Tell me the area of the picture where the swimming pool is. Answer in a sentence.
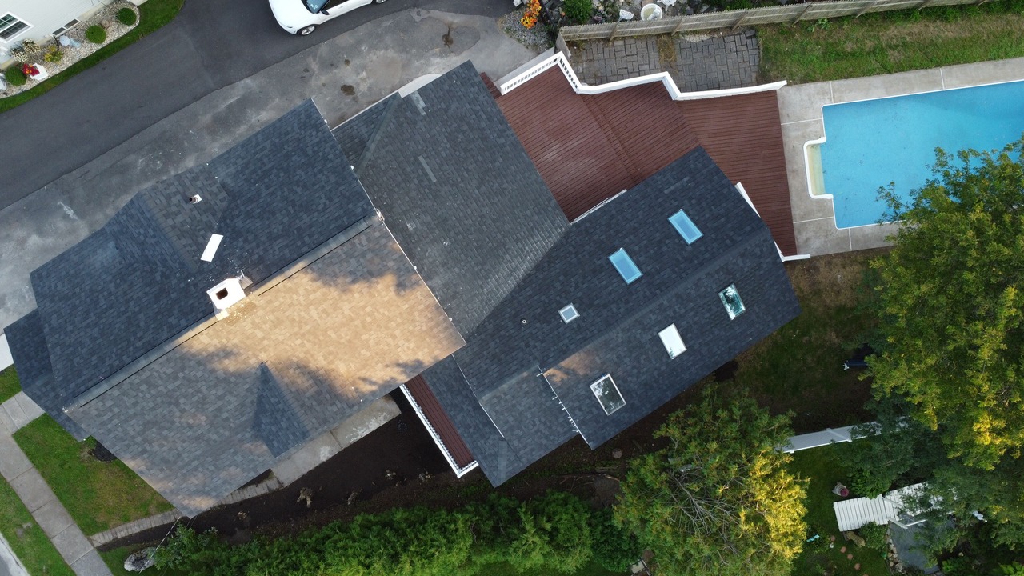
The swimming pool is located in the top right region of the scene.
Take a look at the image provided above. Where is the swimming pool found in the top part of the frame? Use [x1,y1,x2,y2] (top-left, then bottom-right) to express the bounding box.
[803,79,1024,230]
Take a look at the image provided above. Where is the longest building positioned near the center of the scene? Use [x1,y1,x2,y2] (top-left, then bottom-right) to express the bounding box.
[6,61,802,518]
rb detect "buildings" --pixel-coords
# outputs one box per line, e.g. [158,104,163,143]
[6,61,802,518]
[0,0,111,61]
